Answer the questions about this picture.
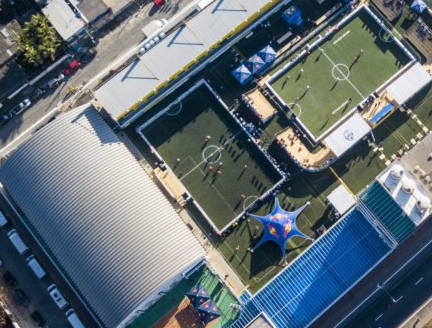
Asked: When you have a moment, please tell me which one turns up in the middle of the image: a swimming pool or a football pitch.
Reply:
football pitch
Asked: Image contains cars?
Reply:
Yes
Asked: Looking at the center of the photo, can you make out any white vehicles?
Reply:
No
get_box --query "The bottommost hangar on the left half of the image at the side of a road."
[0,104,211,328]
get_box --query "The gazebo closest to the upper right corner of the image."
[410,0,427,16]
